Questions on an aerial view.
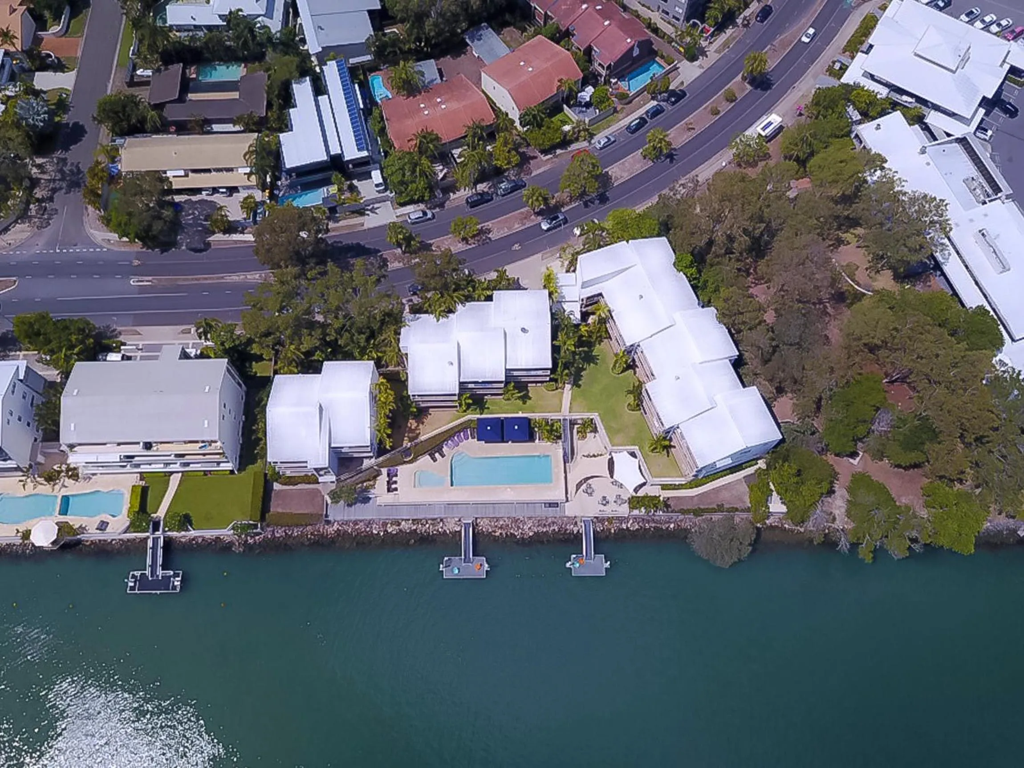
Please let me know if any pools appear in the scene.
Yes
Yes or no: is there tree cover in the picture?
Yes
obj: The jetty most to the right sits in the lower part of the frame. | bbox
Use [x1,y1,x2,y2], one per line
[566,512,610,576]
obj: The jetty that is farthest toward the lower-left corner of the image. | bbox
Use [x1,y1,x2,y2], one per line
[121,528,183,593]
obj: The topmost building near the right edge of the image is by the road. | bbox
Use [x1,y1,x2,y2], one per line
[840,0,1024,136]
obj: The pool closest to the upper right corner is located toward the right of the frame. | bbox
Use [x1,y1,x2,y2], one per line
[626,58,666,93]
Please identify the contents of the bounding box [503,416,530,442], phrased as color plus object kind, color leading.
blue umbrella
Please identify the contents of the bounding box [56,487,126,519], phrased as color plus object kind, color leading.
blue swimming pool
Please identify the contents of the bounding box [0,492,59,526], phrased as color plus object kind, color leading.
blue swimming pool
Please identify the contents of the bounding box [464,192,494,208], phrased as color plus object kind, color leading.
black car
